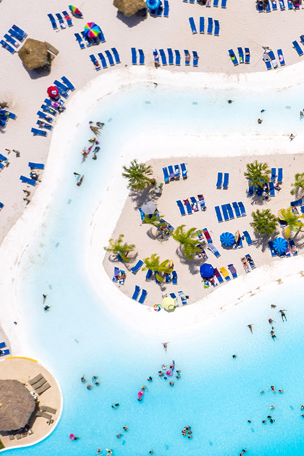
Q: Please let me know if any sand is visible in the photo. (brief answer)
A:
Yes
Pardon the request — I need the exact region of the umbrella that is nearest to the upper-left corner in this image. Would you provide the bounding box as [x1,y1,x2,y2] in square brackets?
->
[67,3,83,17]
